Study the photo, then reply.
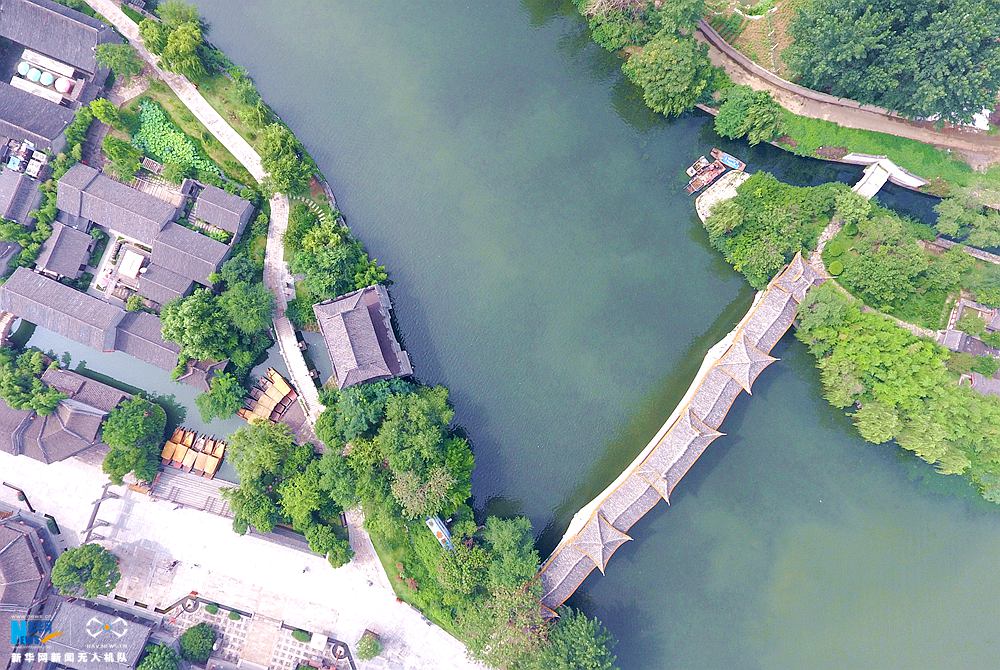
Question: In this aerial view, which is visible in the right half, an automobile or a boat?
boat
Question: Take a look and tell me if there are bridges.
Yes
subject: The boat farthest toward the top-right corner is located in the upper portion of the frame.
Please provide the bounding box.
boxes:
[708,146,748,171]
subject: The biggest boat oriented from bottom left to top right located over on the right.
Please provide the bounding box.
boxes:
[682,161,728,198]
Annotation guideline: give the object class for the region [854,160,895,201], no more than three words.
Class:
bridge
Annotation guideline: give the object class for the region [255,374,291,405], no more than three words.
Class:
boat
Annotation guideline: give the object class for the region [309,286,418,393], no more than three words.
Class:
building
